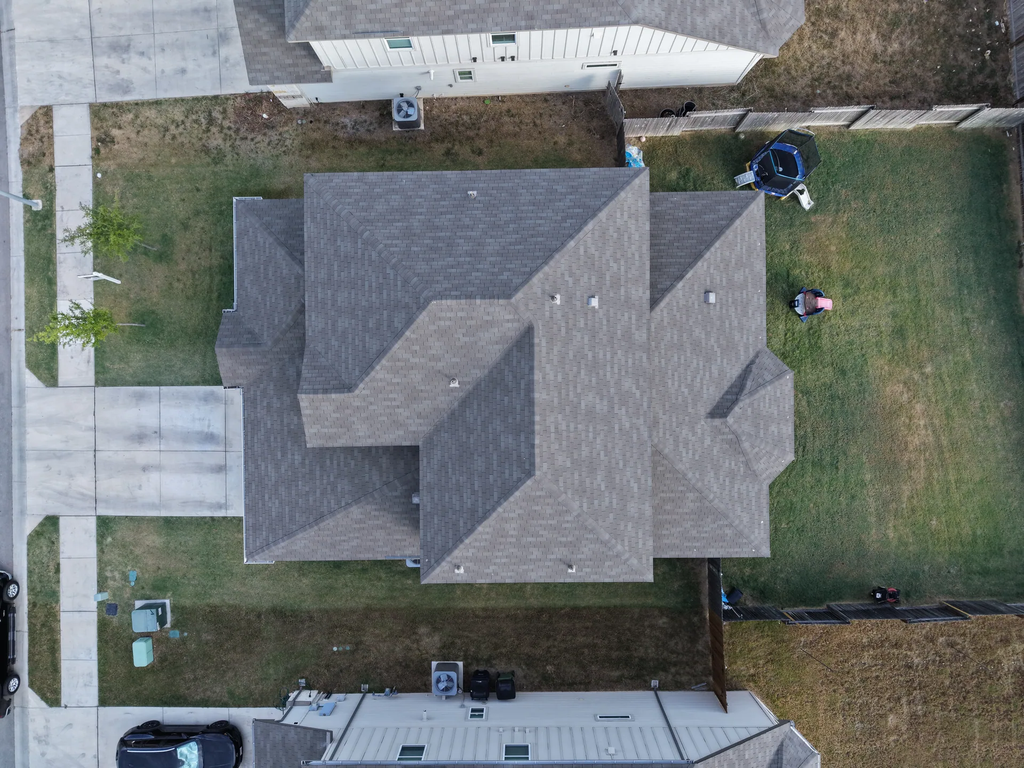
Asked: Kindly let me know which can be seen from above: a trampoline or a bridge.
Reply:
trampoline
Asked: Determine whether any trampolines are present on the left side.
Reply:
No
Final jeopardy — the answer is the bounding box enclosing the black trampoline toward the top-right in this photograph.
[731,125,822,220]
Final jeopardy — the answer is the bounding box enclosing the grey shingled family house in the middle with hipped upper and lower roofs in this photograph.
[213,167,795,585]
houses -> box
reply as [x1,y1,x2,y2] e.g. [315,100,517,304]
[233,0,802,106]
[213,167,795,585]
[249,682,825,768]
